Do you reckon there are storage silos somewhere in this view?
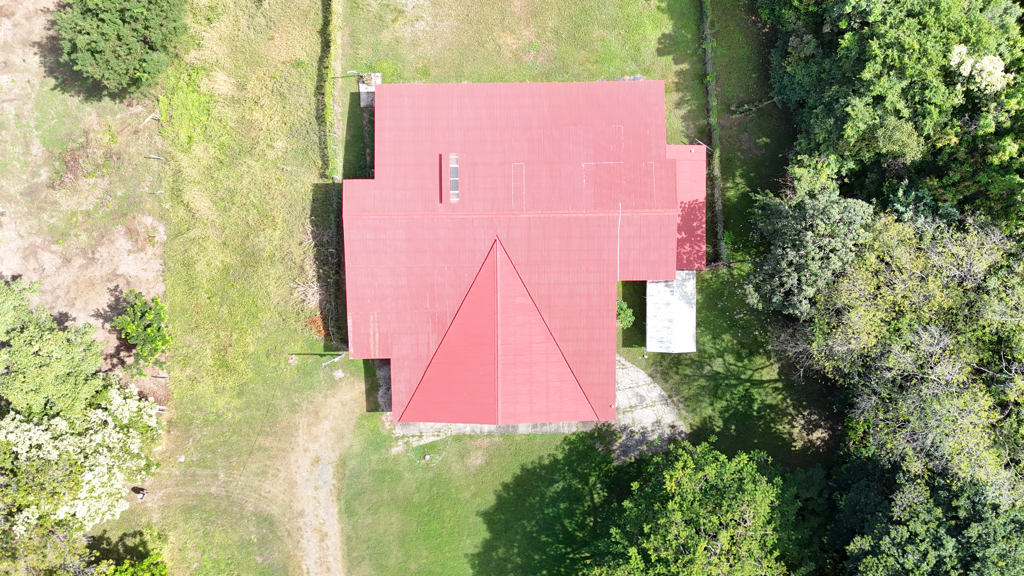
No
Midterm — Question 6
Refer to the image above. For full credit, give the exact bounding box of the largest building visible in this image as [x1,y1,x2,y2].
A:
[341,80,706,425]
